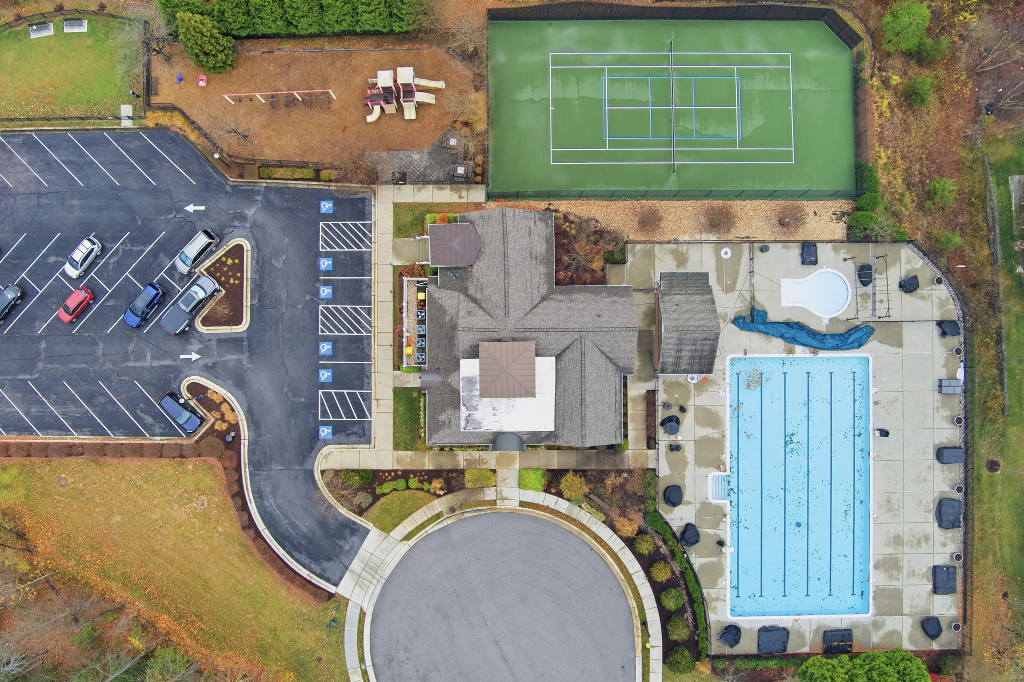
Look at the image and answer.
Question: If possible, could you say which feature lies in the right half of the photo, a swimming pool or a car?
swimming pool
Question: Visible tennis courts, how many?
one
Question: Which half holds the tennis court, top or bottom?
top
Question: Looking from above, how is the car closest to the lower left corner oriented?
on a diagonal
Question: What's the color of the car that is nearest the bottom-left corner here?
blue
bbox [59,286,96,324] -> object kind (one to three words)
car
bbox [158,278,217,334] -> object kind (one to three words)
truck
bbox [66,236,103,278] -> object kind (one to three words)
car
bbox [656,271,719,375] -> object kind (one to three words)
building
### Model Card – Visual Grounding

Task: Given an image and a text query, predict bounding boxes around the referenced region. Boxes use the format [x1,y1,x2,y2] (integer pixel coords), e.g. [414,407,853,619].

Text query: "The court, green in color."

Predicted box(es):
[488,20,857,193]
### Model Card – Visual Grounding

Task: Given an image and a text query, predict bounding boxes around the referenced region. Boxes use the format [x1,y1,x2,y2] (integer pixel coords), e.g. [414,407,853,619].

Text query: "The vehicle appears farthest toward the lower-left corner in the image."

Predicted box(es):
[159,389,203,434]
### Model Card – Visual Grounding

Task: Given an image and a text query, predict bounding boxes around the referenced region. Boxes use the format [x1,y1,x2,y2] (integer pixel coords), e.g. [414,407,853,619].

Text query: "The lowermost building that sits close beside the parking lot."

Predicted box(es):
[419,206,639,453]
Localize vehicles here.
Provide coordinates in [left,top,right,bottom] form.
[0,283,25,326]
[59,286,96,324]
[158,278,217,334]
[126,283,166,326]
[159,389,203,434]
[66,236,103,278]
[175,228,220,275]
